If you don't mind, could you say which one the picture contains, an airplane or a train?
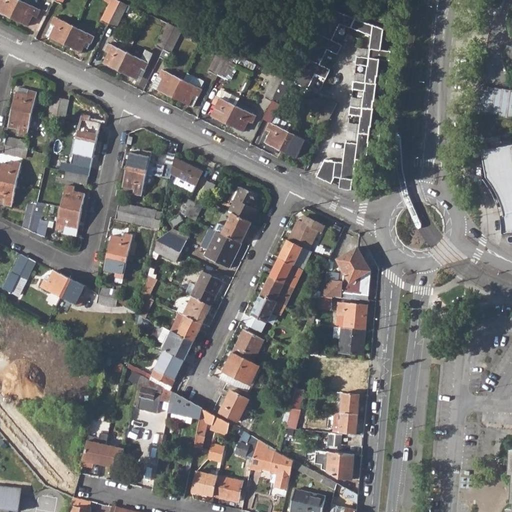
train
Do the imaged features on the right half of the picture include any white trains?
Yes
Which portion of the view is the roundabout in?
right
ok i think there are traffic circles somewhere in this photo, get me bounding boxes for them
[396,200,444,252]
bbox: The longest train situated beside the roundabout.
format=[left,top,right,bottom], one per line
[396,134,421,228]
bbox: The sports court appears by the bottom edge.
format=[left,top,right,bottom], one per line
[22,489,62,512]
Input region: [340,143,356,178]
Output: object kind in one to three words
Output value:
building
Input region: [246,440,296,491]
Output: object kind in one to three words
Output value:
house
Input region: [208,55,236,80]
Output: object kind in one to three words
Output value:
shed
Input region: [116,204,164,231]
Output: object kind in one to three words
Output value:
building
